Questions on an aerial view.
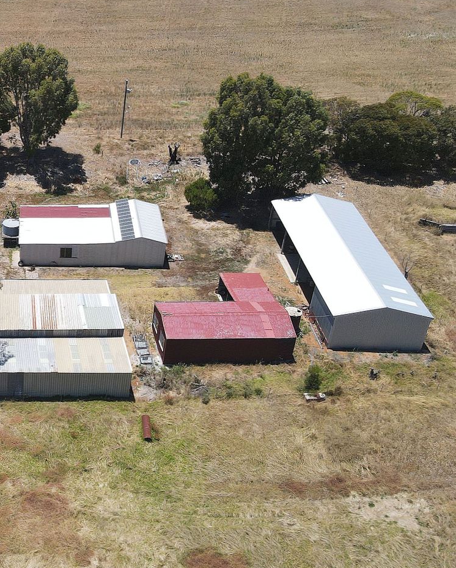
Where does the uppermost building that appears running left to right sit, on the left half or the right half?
left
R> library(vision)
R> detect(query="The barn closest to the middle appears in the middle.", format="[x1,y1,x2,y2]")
[151,273,298,363]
